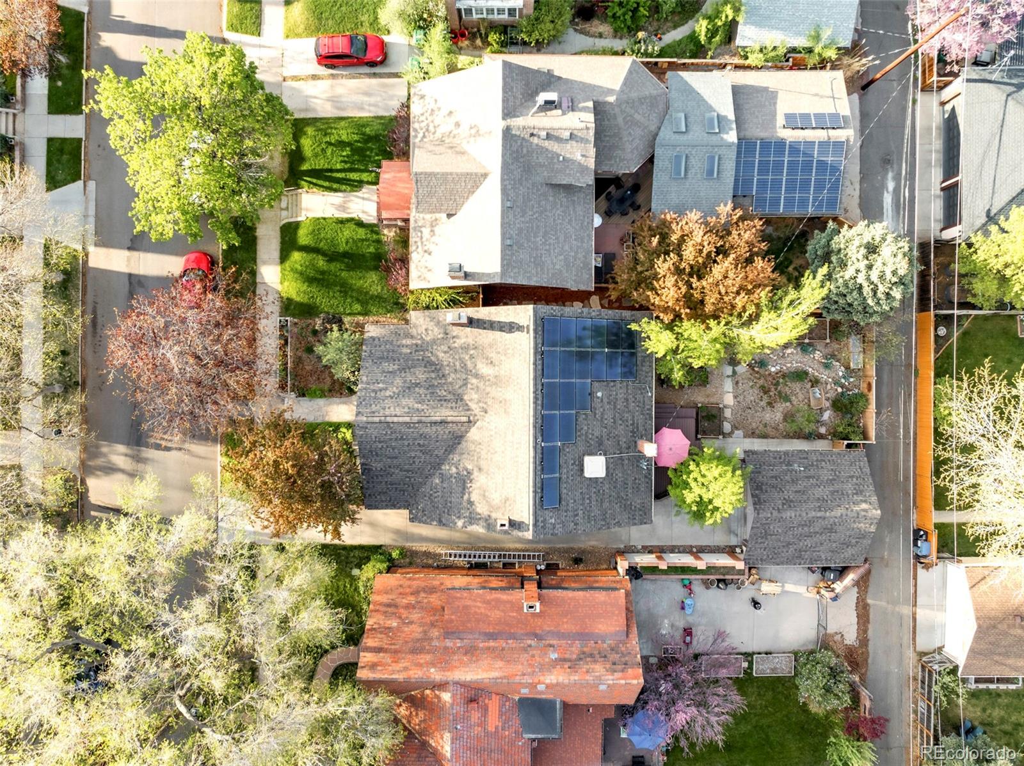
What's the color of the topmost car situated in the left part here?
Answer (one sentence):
The color of the topmost car situated in the left part is red.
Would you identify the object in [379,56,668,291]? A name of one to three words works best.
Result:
house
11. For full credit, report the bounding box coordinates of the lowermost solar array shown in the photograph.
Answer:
[541,316,638,509]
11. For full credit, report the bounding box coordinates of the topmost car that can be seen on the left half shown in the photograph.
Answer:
[312,25,385,65]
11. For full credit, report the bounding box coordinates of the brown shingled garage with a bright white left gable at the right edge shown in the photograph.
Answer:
[946,562,1024,679]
